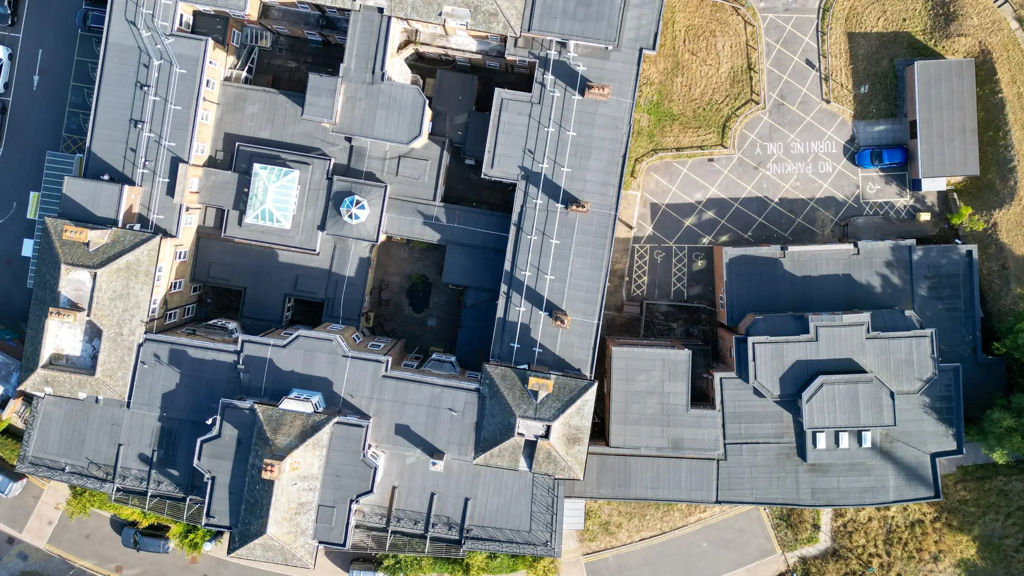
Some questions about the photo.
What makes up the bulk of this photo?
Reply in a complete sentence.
For the most part, this view shows buildings.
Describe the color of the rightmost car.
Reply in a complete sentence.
The rightmost car is blue.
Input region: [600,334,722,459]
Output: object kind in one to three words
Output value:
building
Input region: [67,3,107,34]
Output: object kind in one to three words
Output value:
car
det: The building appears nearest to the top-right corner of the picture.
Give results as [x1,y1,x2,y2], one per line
[895,58,979,179]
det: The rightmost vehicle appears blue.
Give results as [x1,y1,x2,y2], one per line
[852,143,907,171]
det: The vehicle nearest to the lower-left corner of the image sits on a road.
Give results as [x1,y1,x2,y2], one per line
[0,469,32,500]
